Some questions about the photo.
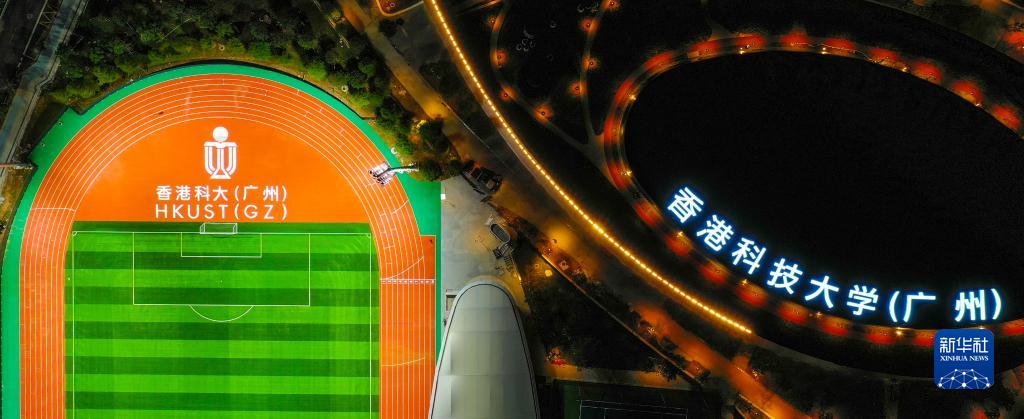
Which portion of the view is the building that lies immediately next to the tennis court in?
bottom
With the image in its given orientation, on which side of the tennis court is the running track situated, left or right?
on the left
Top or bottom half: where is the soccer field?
bottom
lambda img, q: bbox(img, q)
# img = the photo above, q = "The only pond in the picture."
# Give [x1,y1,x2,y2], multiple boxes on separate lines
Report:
[622,52,1024,330]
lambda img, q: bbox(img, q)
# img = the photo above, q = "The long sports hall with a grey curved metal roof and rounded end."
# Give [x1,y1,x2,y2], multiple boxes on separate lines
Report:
[430,273,540,419]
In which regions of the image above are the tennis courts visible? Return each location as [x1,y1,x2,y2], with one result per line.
[553,380,707,419]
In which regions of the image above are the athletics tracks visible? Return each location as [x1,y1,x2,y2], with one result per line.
[1,64,441,419]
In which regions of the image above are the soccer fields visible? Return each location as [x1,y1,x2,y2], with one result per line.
[64,221,379,419]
